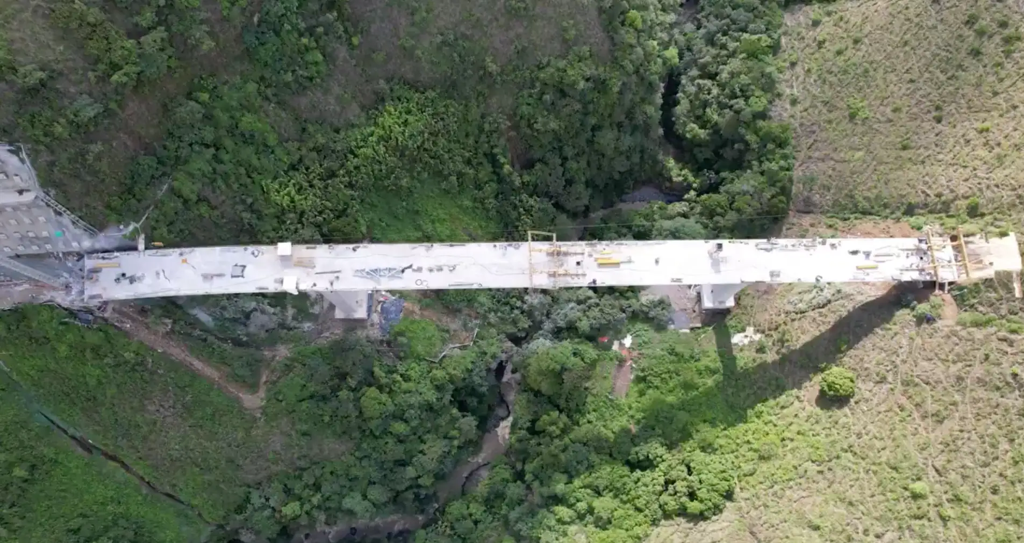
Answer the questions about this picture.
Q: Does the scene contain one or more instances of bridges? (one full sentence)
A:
Yes, I can see a bridge in this picture.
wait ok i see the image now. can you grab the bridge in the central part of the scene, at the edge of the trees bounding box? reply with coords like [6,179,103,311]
[84,238,953,319]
